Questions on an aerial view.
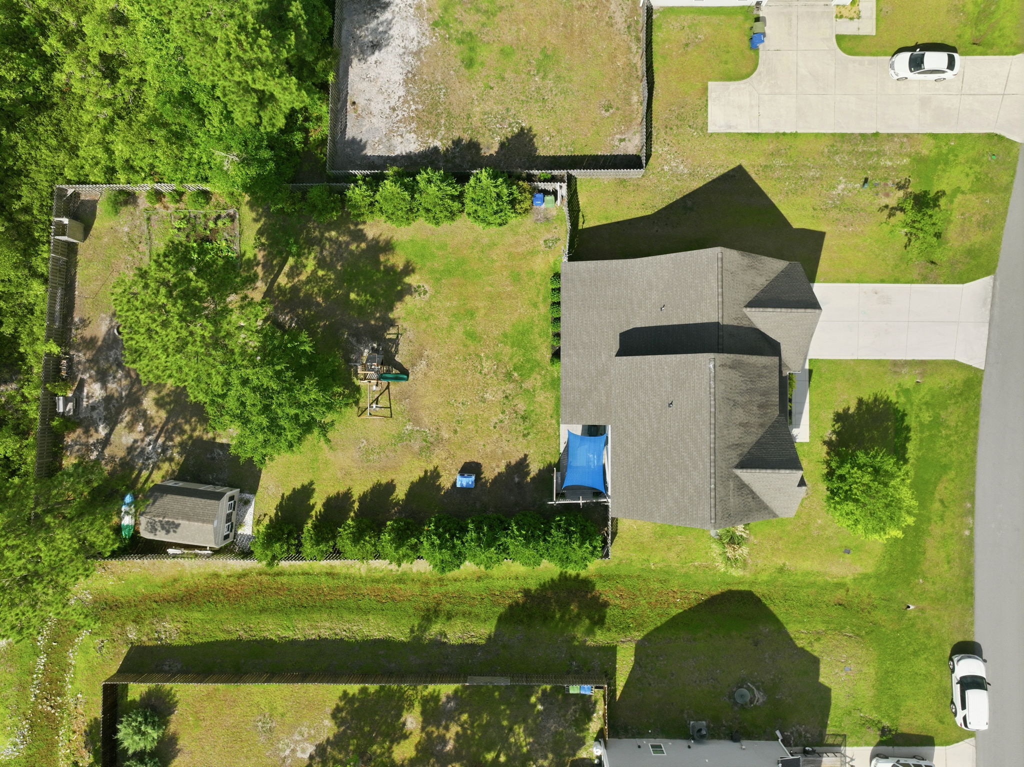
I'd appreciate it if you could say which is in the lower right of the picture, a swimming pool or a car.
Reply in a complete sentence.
Looking in the lower right of the picture, you will find a car.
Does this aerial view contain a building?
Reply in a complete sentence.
Yes, you can see a building in this photo.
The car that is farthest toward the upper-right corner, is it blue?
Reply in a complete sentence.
No, the car that is farthest toward the upper-right corner is white.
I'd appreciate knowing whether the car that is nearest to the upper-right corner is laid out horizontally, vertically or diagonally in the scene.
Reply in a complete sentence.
What the image shows is the car that is nearest to the upper-right corner lying horizontally.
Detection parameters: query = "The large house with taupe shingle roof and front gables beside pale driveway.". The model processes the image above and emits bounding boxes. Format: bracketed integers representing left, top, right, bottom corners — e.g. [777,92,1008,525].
[560,248,821,529]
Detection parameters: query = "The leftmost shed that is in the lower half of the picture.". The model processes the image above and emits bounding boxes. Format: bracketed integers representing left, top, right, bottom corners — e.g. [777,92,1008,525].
[139,480,240,549]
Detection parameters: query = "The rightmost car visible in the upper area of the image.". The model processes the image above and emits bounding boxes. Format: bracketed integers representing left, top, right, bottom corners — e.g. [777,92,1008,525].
[886,47,959,84]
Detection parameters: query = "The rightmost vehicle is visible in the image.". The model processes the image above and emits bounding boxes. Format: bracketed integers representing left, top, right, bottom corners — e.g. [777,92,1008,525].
[947,651,989,728]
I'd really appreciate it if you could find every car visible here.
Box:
[869,753,940,767]
[947,651,989,728]
[886,47,959,84]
